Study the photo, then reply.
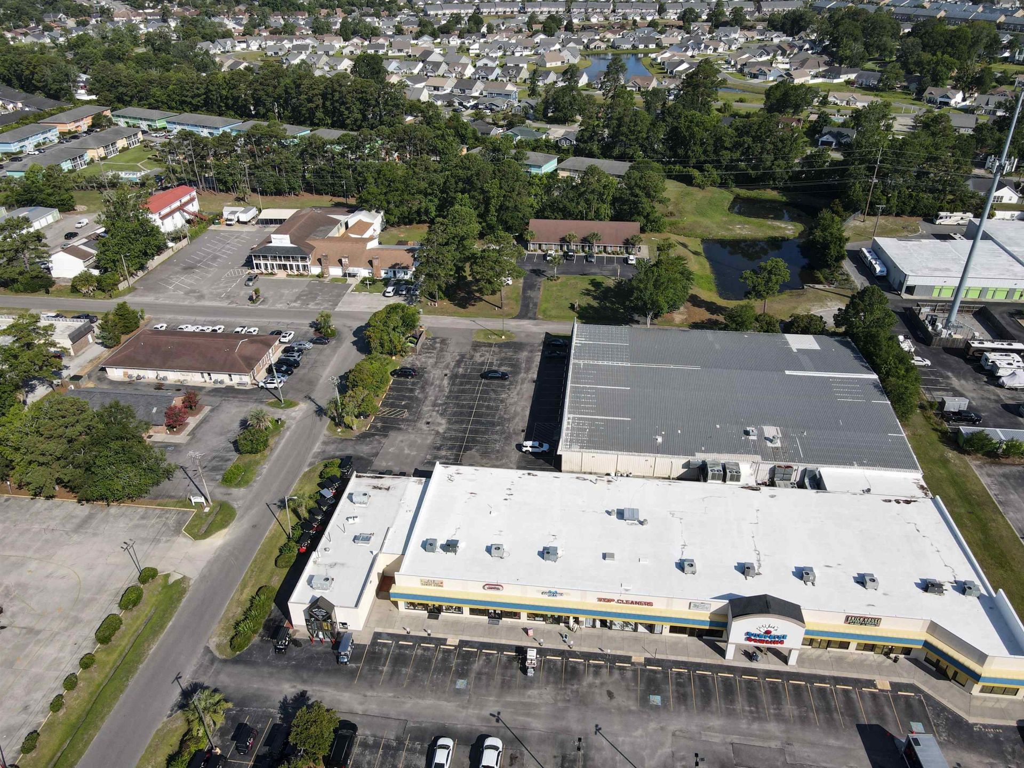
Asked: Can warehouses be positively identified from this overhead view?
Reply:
Yes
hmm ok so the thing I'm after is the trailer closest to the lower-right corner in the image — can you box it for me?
[896,730,944,768]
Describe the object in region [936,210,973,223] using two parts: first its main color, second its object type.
white vehicle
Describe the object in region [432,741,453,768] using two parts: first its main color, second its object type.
white car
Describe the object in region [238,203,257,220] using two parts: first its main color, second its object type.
white vehicle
